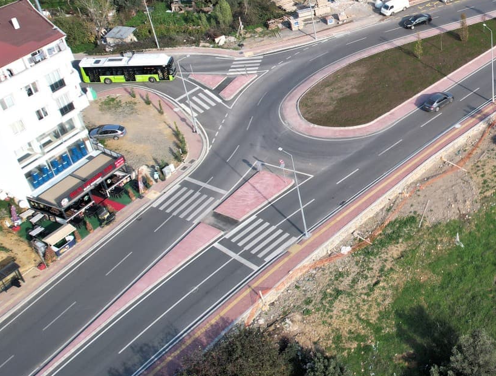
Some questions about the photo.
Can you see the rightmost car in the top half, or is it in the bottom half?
top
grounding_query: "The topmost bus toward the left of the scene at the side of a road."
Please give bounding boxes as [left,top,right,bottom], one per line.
[79,51,174,82]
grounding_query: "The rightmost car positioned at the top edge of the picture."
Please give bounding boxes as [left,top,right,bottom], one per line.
[403,11,432,27]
